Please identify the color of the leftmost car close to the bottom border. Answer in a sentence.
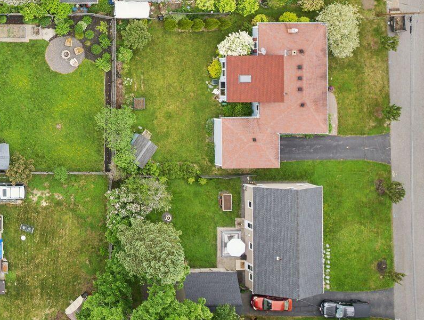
From above, the leftmost car close to the bottom border appears red.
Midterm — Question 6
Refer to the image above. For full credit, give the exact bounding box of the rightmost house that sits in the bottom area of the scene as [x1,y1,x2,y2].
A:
[234,183,324,300]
